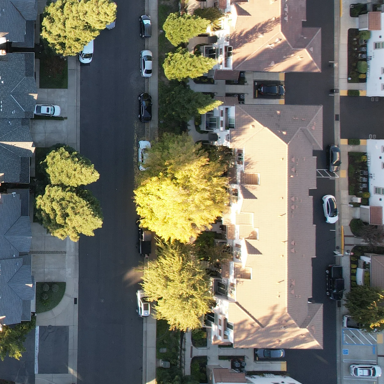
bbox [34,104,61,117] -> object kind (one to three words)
vehicle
